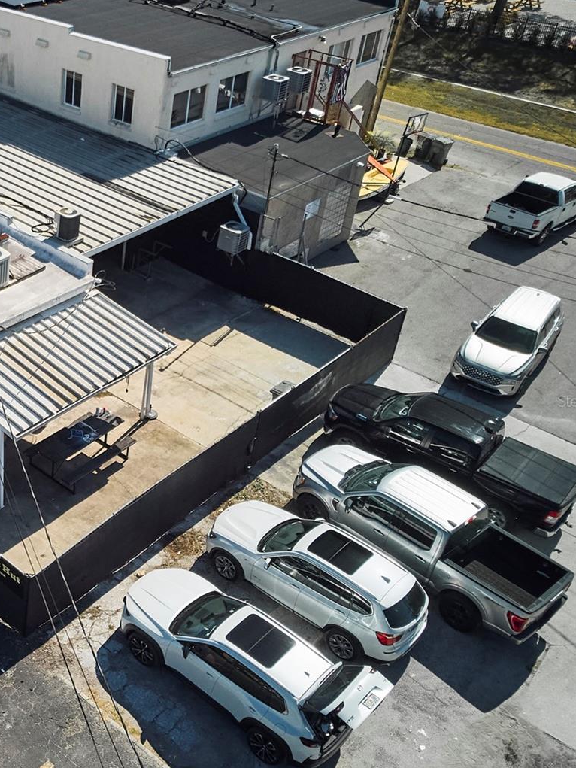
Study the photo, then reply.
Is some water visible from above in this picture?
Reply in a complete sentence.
No, no water is visible.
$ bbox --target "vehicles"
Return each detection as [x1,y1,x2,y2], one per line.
[276,446,576,649]
[480,167,576,240]
[320,376,576,537]
[127,570,403,768]
[209,497,444,667]
[454,289,576,398]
